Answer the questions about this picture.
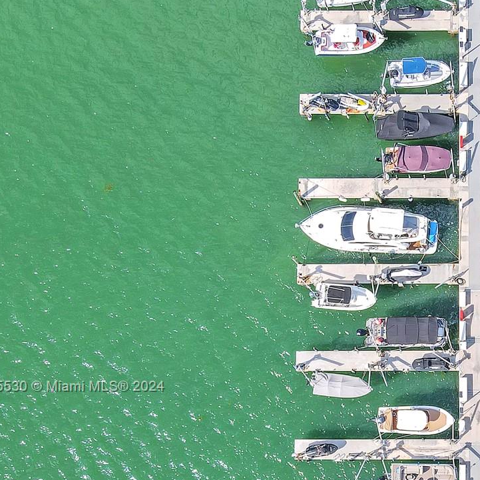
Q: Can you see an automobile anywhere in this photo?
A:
No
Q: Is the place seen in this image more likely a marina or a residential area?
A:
marina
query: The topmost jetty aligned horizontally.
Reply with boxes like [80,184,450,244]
[301,10,459,37]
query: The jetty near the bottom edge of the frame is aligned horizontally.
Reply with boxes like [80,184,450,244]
[295,438,459,461]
